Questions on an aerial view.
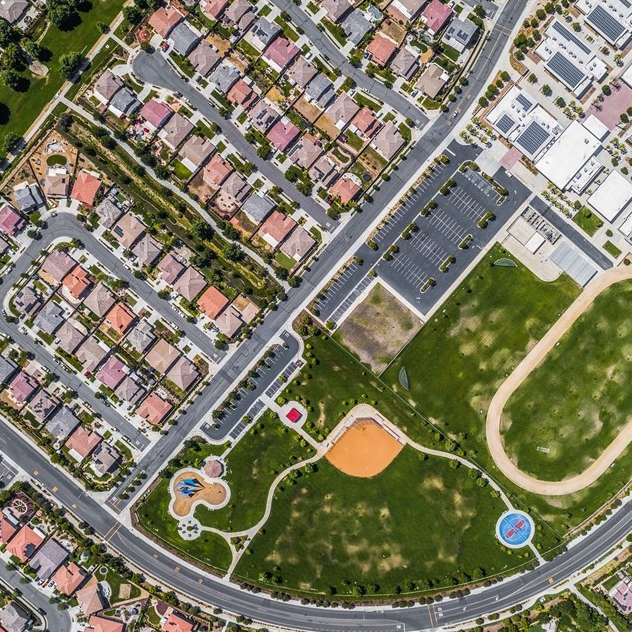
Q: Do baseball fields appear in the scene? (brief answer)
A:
Yes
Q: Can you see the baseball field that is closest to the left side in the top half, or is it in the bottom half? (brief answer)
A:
bottom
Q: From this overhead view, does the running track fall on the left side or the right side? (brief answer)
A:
right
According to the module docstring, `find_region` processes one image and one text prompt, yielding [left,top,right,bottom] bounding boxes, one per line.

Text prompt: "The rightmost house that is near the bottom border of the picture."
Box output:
[605,578,632,619]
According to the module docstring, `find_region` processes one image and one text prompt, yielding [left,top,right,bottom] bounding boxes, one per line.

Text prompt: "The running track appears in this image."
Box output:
[486,265,632,493]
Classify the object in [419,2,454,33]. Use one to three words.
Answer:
house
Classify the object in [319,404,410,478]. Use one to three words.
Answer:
baseball field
